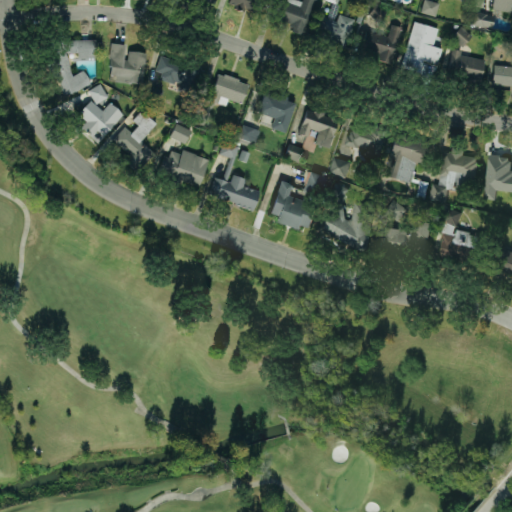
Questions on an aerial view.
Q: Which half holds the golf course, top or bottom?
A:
bottom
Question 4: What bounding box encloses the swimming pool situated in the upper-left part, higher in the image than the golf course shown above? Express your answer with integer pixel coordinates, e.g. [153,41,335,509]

[76,61,96,80]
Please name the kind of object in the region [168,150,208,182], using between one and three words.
house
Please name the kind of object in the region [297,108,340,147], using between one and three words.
house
